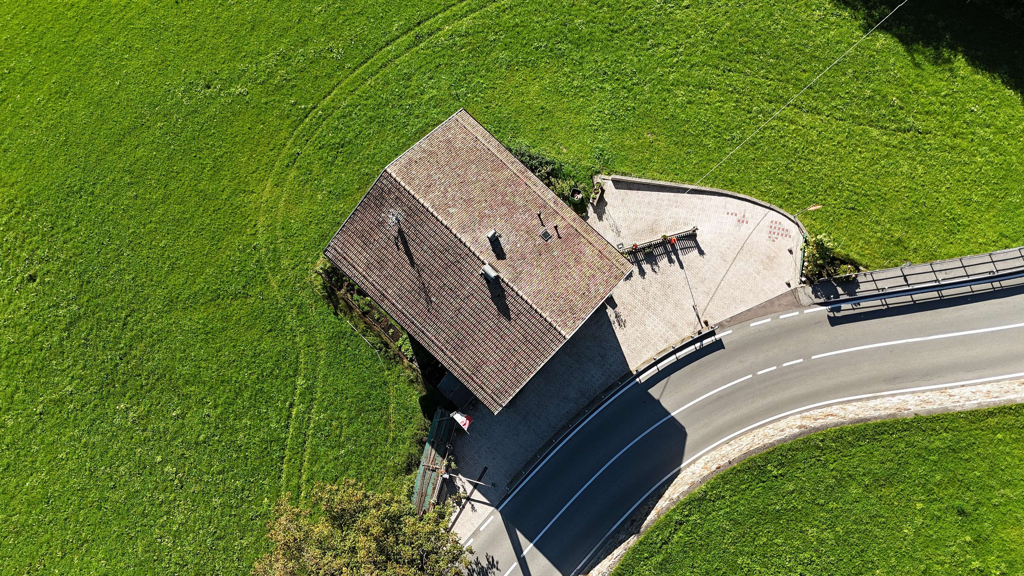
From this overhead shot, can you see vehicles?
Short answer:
No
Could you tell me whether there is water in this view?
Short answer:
No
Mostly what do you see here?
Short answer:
grass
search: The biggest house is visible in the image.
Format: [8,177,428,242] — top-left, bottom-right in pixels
[323,107,633,416]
